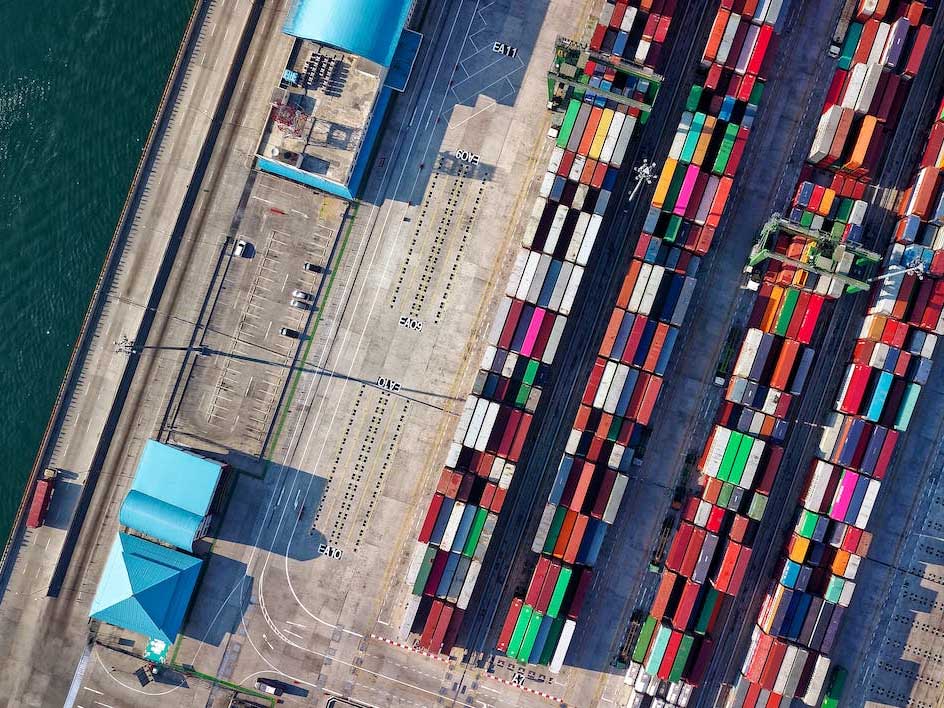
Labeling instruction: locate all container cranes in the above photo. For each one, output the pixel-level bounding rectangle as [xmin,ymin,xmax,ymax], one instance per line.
[738,214,890,304]
[543,37,667,145]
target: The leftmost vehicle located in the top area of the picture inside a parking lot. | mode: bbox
[231,238,246,259]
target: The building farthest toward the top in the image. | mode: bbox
[281,0,429,99]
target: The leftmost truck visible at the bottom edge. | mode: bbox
[255,675,287,696]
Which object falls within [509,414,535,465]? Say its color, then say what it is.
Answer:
red shipping container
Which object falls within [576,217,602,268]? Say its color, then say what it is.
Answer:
white shipping container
